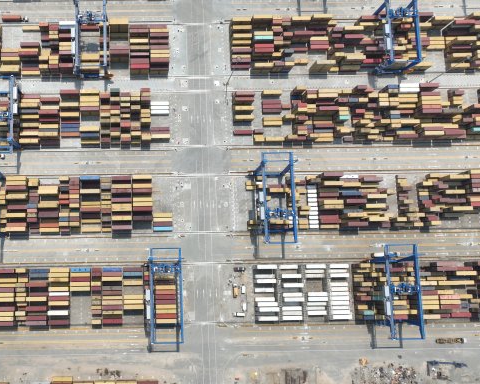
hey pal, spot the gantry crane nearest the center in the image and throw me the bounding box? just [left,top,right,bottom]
[248,152,299,243]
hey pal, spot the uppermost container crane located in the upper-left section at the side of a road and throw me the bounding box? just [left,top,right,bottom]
[71,0,112,78]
